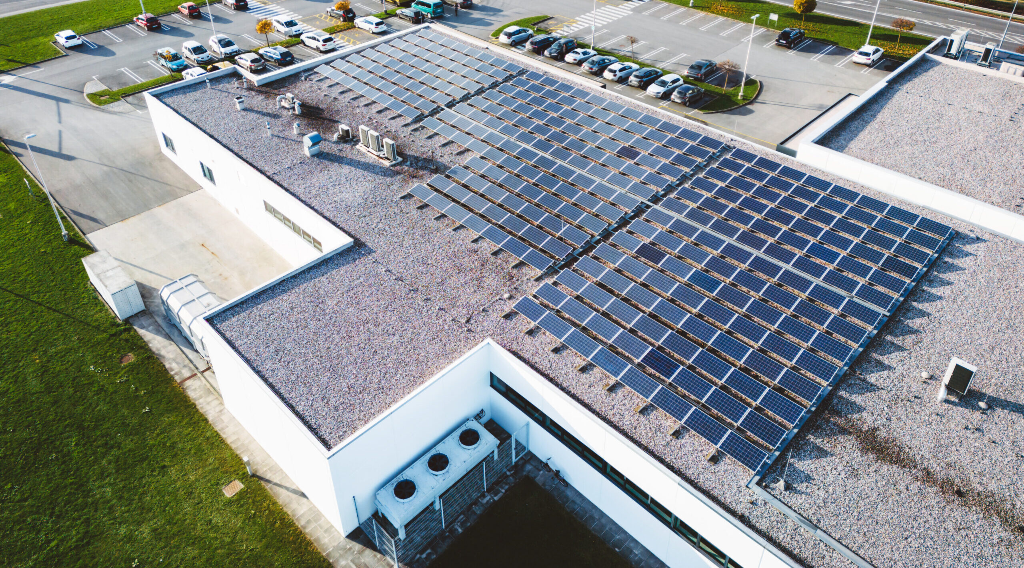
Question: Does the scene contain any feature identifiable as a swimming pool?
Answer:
No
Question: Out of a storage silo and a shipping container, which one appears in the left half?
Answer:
shipping container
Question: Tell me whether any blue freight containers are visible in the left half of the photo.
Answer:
No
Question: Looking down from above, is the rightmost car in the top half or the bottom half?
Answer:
top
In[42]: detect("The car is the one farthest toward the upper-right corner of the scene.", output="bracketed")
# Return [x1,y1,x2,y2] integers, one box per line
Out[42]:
[856,42,889,64]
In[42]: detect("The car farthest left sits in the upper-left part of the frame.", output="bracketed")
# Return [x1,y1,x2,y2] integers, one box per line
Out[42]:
[54,29,79,46]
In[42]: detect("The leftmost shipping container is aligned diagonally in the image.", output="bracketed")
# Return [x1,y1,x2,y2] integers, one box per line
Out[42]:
[82,247,145,322]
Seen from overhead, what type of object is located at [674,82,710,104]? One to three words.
car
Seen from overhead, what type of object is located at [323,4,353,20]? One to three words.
car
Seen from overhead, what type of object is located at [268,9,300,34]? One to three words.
vehicle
